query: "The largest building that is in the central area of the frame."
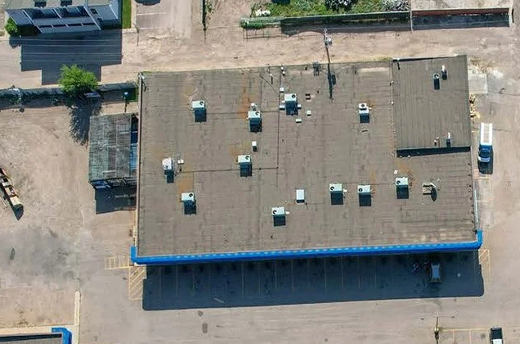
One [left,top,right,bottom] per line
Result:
[131,54,484,266]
